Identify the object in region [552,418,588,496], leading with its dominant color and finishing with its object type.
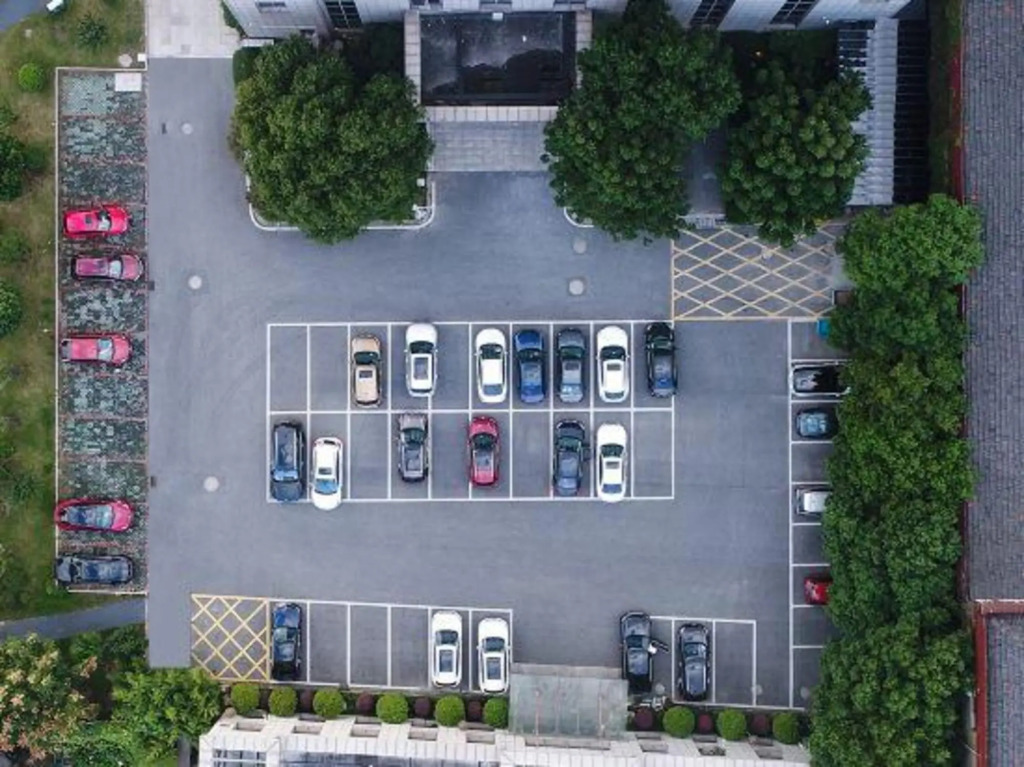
blue car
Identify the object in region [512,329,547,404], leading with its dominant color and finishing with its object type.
blue car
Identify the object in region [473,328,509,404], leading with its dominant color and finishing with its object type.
white car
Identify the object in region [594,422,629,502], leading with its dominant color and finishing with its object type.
white car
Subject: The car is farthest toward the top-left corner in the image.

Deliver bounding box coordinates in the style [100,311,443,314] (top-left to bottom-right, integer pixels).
[62,204,132,240]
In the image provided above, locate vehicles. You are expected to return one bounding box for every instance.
[348,334,384,406]
[792,408,859,439]
[267,600,305,681]
[308,435,344,511]
[466,414,503,487]
[595,325,630,403]
[618,611,666,694]
[394,410,431,483]
[55,498,136,534]
[638,695,667,708]
[793,484,853,516]
[512,329,547,404]
[402,322,439,397]
[552,418,588,496]
[474,616,511,693]
[62,204,132,240]
[788,364,859,397]
[68,249,145,285]
[594,422,629,502]
[674,622,711,700]
[269,421,307,501]
[473,328,509,404]
[428,610,464,687]
[643,322,679,399]
[60,332,133,367]
[553,329,588,404]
